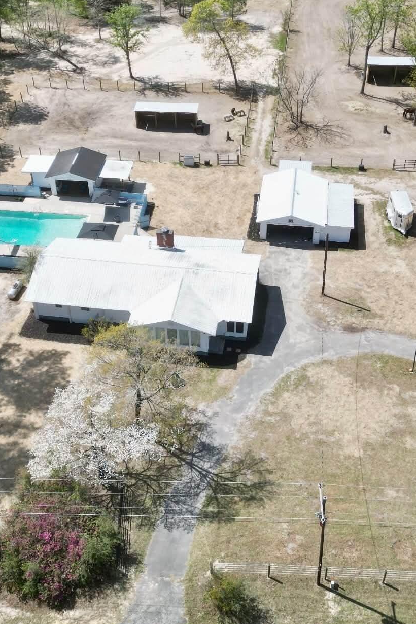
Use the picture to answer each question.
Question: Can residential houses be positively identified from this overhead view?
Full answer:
Yes, this view includes a residential house.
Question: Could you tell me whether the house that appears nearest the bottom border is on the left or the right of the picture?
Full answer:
The house that appears nearest the bottom border appears in the left half of the scene.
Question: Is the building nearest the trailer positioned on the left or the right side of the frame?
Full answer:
You can find the building nearest the trailer on the right side of the picture.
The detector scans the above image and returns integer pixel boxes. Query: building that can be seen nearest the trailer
[255,160,355,247]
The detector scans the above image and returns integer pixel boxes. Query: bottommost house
[23,225,262,360]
